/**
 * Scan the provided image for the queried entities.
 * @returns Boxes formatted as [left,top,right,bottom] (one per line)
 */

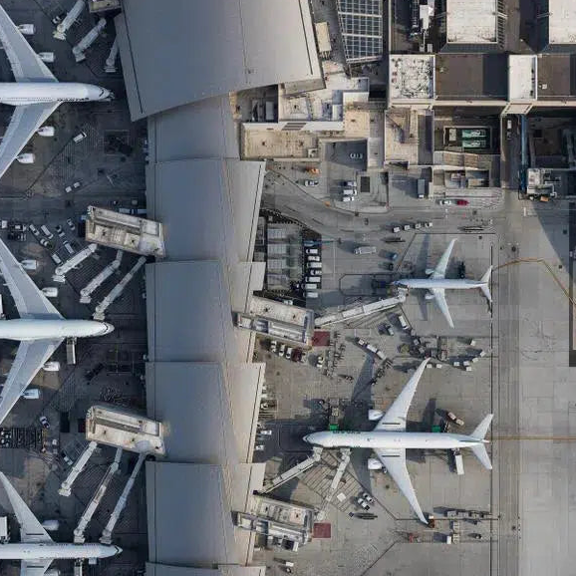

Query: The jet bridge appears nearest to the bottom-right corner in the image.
[317,446,353,526]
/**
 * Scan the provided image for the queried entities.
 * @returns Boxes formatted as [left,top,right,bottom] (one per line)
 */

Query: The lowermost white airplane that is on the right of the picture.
[305,358,494,523]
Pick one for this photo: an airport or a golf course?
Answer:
airport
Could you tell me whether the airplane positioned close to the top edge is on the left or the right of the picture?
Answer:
left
